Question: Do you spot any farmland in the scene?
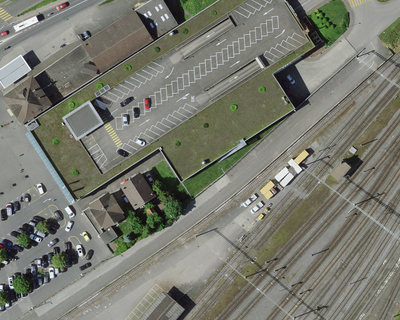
No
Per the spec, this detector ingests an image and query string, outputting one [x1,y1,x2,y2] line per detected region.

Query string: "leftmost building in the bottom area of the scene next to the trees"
[89,192,123,244]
